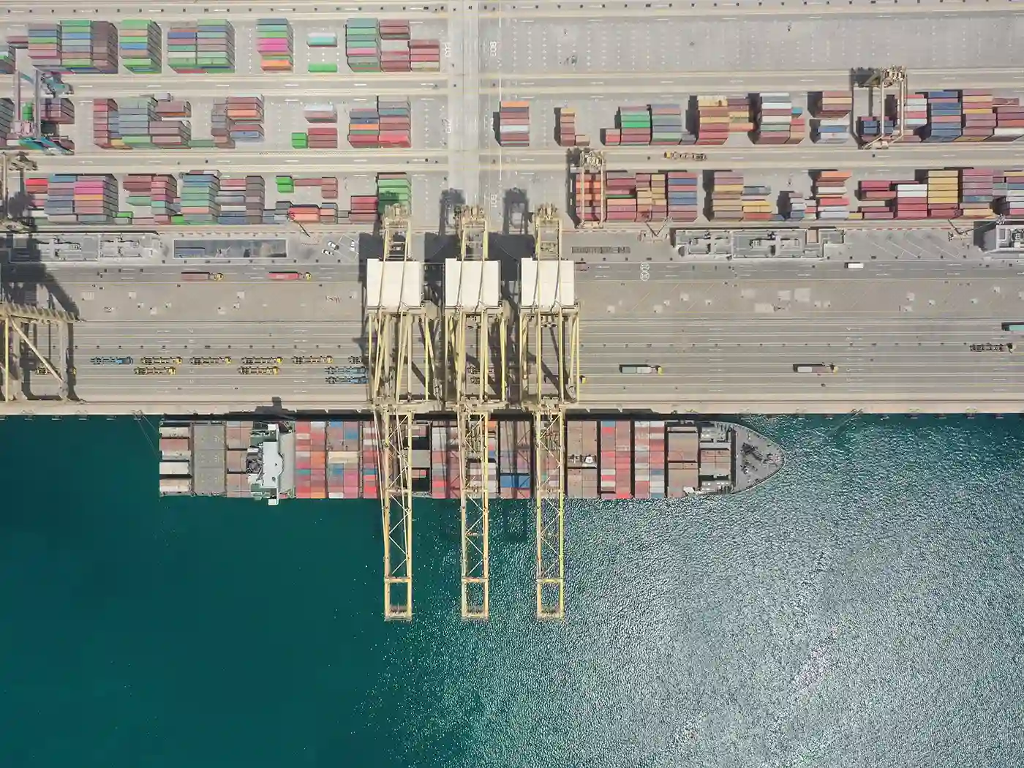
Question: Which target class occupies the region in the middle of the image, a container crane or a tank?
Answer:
container crane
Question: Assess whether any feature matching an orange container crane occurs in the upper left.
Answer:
No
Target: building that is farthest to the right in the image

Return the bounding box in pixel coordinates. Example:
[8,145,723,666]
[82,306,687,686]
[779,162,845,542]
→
[985,225,1024,253]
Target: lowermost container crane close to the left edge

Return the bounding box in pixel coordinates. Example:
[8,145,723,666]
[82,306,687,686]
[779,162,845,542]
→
[0,308,91,413]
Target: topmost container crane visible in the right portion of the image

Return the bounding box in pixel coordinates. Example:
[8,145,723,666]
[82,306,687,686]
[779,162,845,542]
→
[859,67,905,150]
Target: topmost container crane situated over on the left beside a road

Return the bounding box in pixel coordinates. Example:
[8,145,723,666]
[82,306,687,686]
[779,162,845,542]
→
[14,74,68,153]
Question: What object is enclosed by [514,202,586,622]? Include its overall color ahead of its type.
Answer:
white container crane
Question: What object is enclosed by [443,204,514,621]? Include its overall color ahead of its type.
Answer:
white container crane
